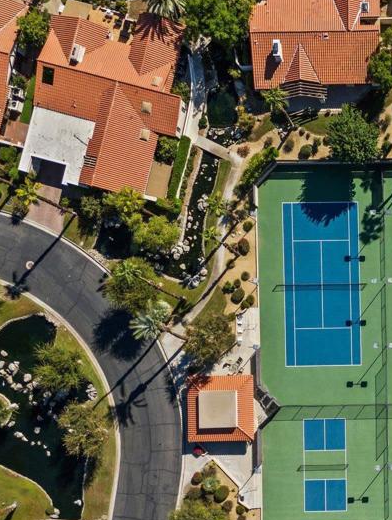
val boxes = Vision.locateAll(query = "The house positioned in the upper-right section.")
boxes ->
[250,0,380,92]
